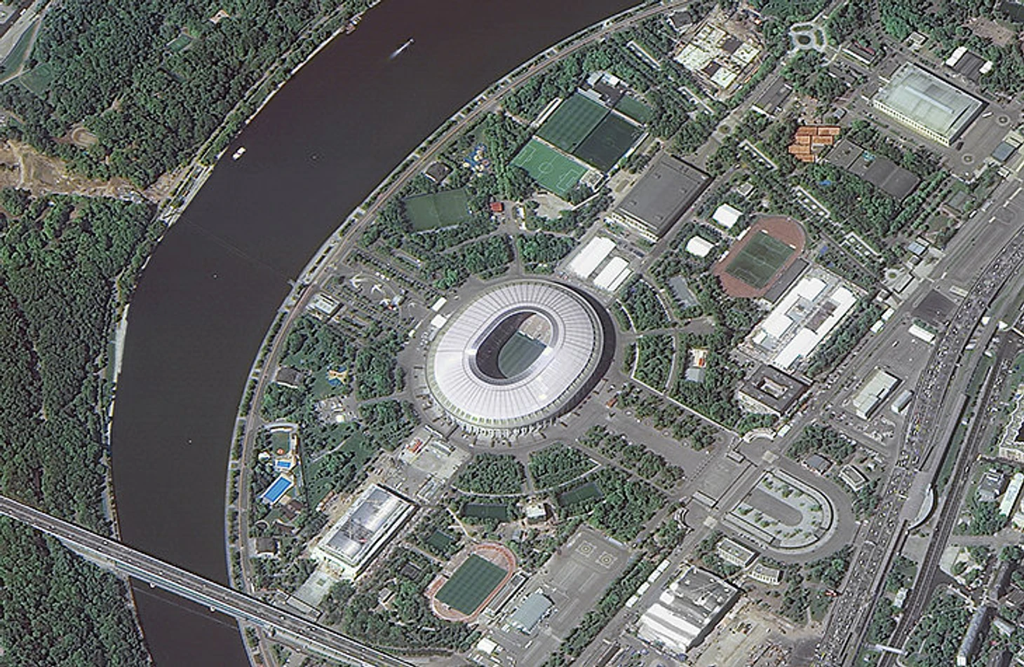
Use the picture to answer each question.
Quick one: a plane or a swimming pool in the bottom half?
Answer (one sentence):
The feature located in the bottom half is a swimming pool.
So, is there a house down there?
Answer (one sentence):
Yes, the picture does show a house.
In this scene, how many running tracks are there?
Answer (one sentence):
The count of running tracks comes to 2.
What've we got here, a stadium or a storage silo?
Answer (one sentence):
The one in the frame is a stadium.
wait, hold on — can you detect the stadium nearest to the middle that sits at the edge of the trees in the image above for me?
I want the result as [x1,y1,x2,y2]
[421,278,607,443]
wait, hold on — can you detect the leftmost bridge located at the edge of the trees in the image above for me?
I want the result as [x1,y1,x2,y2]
[0,496,418,667]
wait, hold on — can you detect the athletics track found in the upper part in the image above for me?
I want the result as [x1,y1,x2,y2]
[716,217,807,299]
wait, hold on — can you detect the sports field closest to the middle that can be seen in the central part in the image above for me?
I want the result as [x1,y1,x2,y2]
[482,333,544,379]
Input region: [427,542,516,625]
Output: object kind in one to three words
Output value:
running track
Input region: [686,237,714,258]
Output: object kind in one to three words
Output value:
tent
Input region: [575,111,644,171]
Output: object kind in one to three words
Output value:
soccer field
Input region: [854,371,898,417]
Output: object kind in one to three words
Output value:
building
